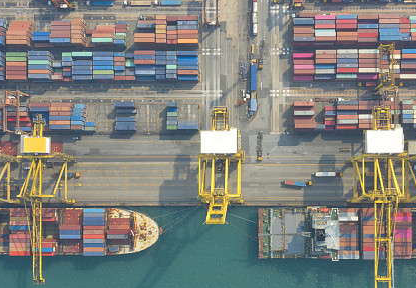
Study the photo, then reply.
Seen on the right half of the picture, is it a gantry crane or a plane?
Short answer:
gantry crane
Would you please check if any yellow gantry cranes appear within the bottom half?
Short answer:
Yes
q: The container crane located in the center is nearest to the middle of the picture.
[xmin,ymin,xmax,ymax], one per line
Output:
[195,104,249,226]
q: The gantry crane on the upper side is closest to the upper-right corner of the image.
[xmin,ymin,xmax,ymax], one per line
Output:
[368,44,396,94]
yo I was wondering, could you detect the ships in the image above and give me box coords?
[0,208,163,256]
[254,208,416,287]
